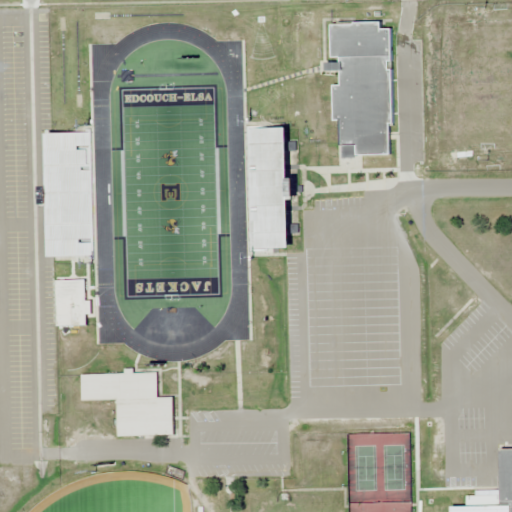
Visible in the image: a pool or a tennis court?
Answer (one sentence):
The image shows a tennis court.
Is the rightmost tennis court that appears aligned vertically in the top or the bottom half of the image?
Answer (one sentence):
The rightmost tennis court that appears aligned vertically is in the bottom half of the image.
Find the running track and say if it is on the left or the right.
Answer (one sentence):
You can find the running track on the left side of the picture.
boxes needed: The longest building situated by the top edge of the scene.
[324,21,395,158]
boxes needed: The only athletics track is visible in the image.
[92,24,250,362]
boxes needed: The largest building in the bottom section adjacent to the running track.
[81,368,177,436]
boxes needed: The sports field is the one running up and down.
[110,40,232,345]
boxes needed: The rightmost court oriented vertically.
[380,432,412,502]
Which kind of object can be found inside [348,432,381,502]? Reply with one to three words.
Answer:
tennis court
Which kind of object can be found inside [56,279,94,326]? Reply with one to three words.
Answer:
building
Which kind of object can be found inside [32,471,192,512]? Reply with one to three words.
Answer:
baseball field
